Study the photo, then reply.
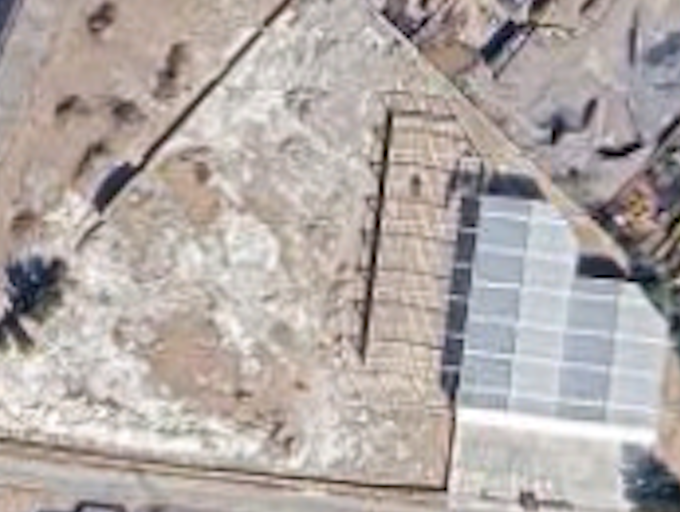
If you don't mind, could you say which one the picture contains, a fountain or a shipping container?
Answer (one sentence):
The one in the frame is a shipping container.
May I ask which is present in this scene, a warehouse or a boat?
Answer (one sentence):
I can see a warehouse in this picture.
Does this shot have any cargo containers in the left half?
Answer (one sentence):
No, in the left half there is no cargo container.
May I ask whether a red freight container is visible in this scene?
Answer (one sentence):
No, the picture doesn't show any red freight container.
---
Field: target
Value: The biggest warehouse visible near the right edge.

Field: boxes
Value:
[444,198,670,440]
